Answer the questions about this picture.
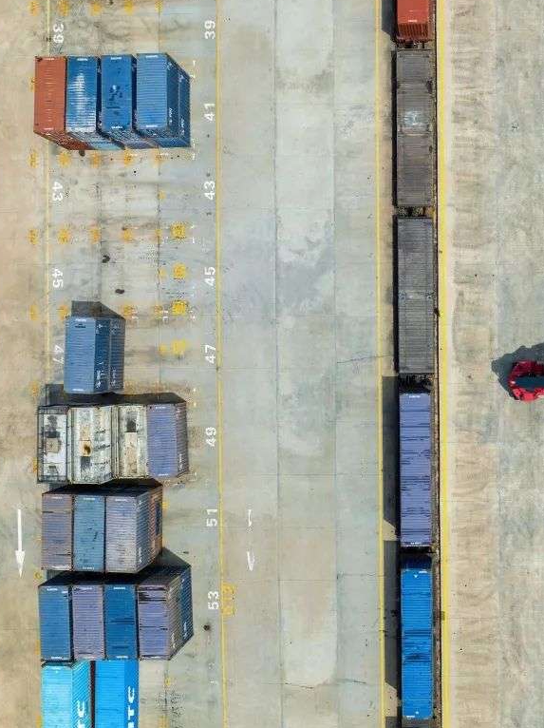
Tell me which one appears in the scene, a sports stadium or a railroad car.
railroad car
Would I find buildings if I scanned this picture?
No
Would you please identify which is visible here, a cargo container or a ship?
cargo container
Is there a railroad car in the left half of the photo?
No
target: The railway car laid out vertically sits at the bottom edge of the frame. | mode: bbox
[400,546,436,707]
